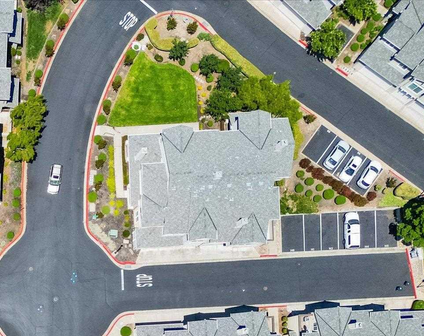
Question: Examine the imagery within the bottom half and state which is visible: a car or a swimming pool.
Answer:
car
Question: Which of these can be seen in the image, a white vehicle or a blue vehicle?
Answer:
white vehicle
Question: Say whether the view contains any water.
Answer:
No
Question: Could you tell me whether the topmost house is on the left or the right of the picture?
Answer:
right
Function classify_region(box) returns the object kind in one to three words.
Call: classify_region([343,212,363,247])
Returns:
car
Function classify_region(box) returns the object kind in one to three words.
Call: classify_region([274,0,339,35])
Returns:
house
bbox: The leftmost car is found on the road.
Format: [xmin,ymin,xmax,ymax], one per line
[46,163,63,196]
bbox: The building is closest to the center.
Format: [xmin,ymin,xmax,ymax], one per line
[126,108,295,250]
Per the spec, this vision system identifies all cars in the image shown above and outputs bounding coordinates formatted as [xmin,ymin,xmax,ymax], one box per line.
[338,154,364,183]
[343,212,363,247]
[356,160,383,191]
[323,141,349,171]
[46,163,63,196]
